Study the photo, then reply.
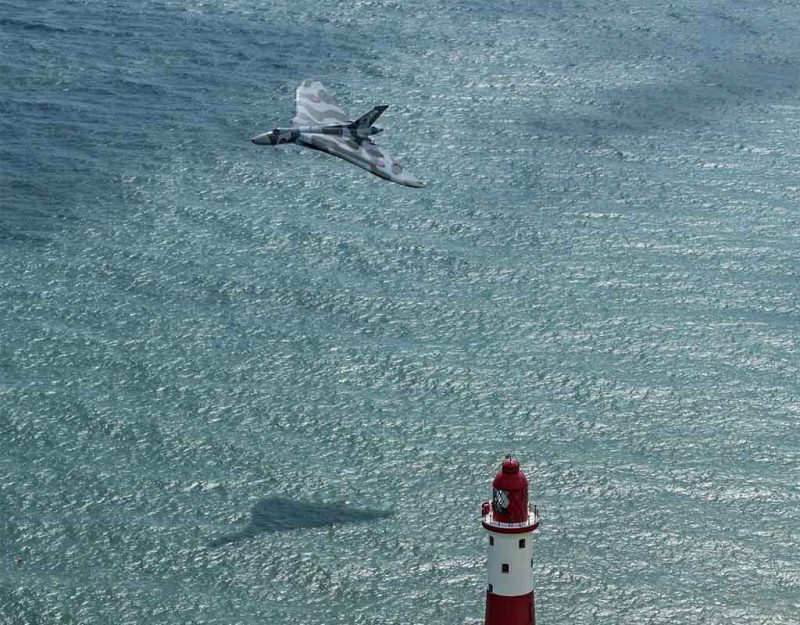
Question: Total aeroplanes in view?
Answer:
one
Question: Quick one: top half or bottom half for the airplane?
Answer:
top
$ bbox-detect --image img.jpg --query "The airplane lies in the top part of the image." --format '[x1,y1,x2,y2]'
[252,80,427,187]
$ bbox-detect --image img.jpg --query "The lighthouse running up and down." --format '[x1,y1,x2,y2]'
[481,454,539,625]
